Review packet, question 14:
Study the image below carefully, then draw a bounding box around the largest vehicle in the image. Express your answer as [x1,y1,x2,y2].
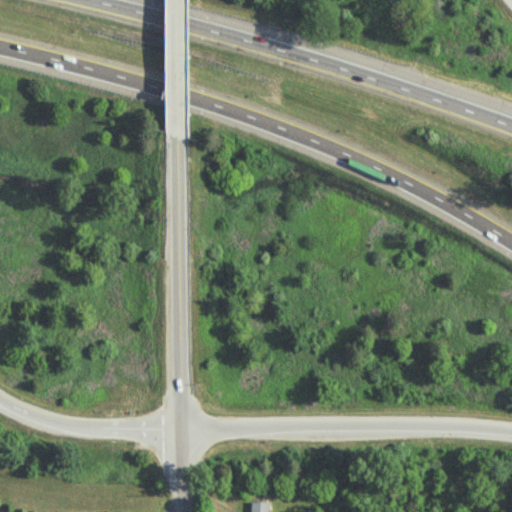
[348,158,398,186]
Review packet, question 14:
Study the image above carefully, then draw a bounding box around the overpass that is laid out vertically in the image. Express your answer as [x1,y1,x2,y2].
[164,0,192,138]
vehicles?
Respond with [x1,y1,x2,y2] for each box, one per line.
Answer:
[52,63,65,70]
[486,231,500,242]
[178,378,183,392]
[10,43,24,50]
[62,56,78,64]
[351,75,363,82]
[252,36,266,43]
[348,158,398,186]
